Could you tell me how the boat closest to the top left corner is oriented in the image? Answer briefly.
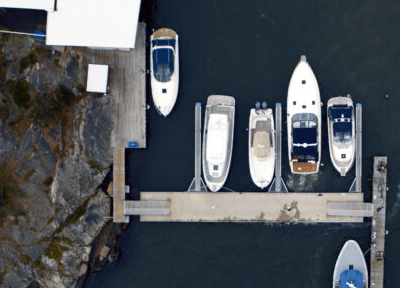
from top to bottom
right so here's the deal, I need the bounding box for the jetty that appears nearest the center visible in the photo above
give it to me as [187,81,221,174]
[189,104,208,192]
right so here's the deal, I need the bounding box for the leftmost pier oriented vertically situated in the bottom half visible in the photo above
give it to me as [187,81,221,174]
[103,148,130,222]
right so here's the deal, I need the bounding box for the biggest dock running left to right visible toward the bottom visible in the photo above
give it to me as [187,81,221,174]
[140,192,363,223]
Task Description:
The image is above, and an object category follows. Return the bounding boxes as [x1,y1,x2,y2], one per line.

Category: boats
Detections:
[249,101,275,190]
[151,28,179,115]
[203,95,235,192]
[327,93,355,177]
[287,55,321,175]
[333,239,369,288]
